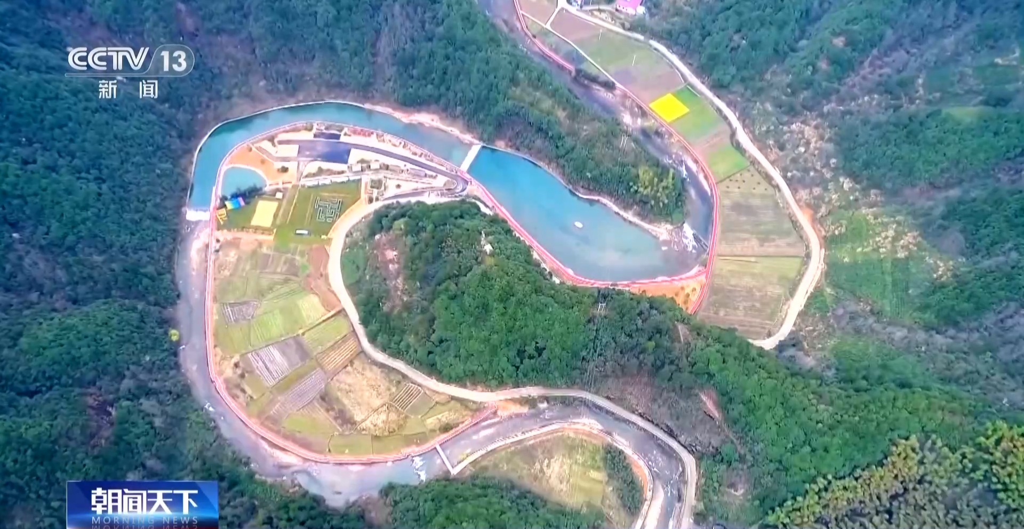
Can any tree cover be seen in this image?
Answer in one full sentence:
Yes, there's tree cover in this view.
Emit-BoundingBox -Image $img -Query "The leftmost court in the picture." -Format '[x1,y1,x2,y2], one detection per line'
[251,200,279,227]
